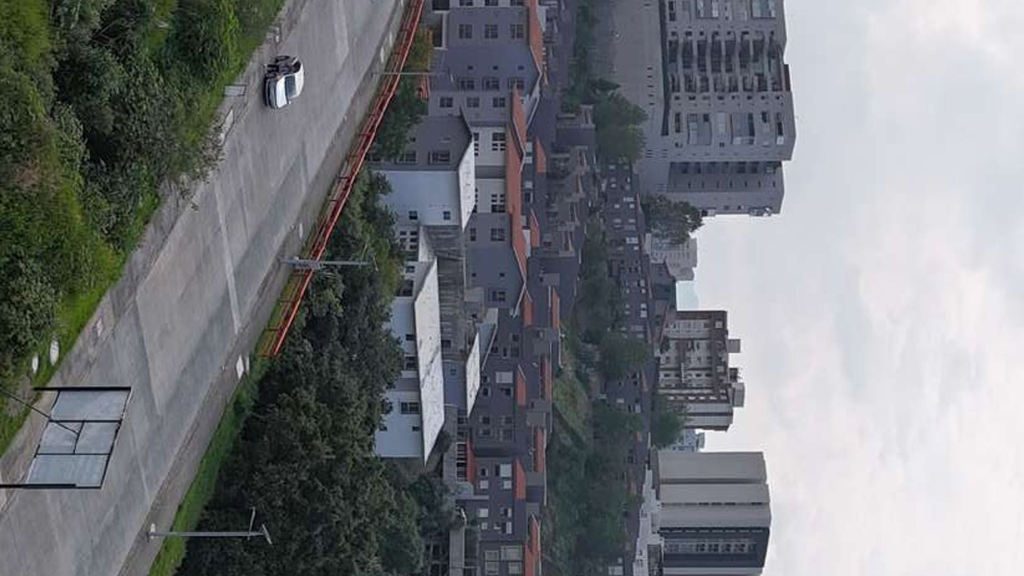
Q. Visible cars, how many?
one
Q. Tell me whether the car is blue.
No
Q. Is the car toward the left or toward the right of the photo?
left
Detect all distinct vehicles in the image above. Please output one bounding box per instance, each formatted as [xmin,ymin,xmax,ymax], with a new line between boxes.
[265,61,310,105]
